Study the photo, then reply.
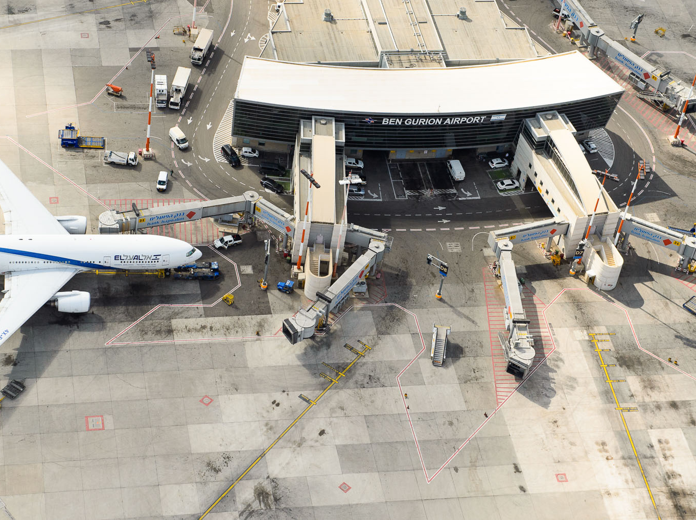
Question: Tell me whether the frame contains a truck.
Yes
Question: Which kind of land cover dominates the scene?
paved ground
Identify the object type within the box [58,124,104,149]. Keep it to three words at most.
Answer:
work vehicle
